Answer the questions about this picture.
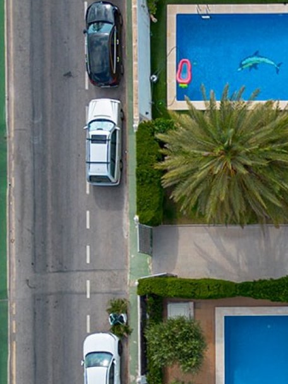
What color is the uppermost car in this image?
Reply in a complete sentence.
The color of the uppermost car is black.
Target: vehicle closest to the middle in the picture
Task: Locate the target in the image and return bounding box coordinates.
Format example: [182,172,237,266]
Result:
[79,98,129,187]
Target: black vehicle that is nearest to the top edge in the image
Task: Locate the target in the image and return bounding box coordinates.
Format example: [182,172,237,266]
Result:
[79,1,129,89]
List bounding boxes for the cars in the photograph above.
[79,1,129,89]
[78,332,128,384]
[79,98,129,187]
